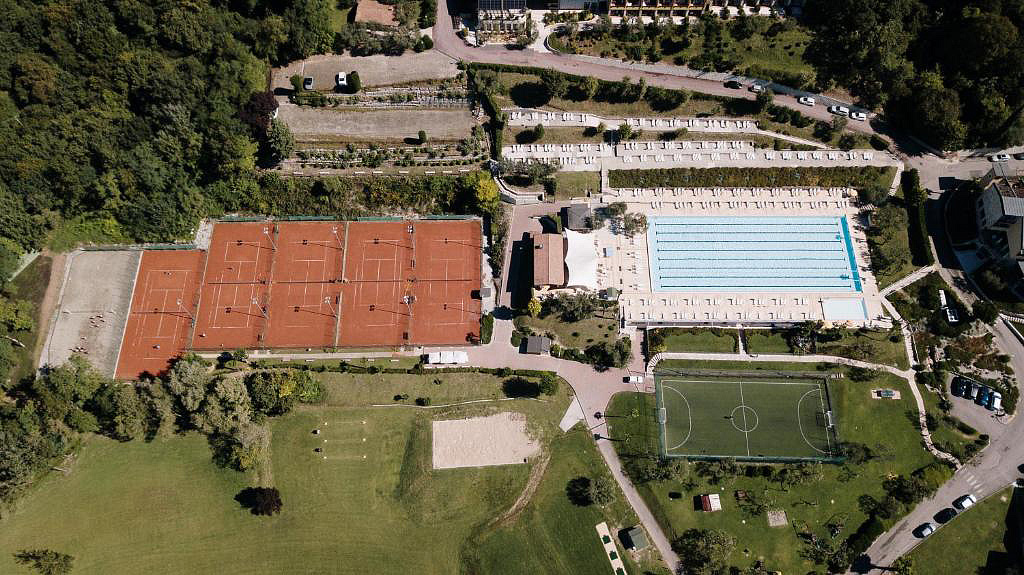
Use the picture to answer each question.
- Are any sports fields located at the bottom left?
No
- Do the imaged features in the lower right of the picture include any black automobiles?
Yes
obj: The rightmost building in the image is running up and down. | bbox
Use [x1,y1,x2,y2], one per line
[968,158,1024,275]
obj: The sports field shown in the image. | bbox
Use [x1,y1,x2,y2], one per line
[656,375,836,457]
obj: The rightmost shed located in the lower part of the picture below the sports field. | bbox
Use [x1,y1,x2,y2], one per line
[699,494,722,513]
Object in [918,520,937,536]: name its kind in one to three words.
car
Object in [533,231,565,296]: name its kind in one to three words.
building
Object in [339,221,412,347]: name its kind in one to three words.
tennis court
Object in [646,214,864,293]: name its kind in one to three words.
swimming pool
